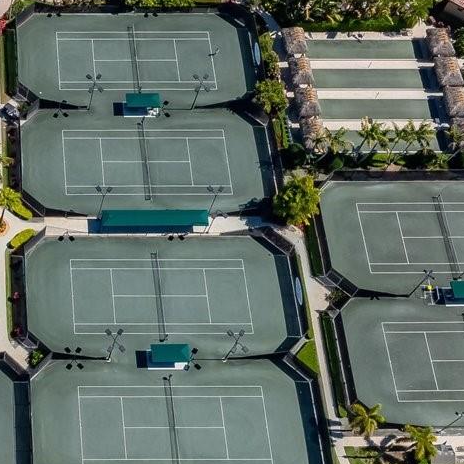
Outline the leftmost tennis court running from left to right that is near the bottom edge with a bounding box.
[28,359,325,464]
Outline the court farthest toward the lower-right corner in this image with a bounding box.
[341,297,464,429]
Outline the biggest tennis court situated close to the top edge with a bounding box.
[17,13,259,110]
